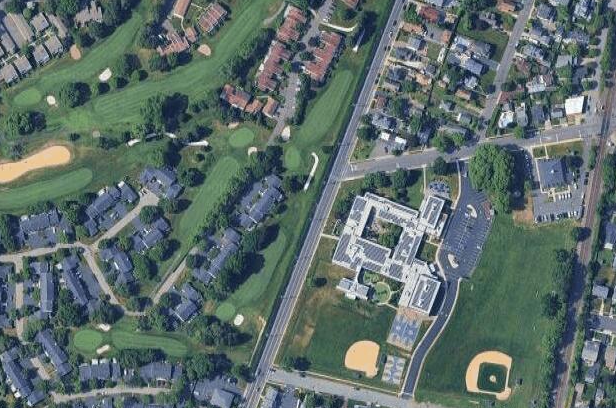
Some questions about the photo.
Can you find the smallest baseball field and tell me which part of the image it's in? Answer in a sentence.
The smallest baseball field sits in the bottom section of the image.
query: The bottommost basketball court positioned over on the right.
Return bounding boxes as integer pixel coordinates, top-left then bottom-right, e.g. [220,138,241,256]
[382,355,405,385]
